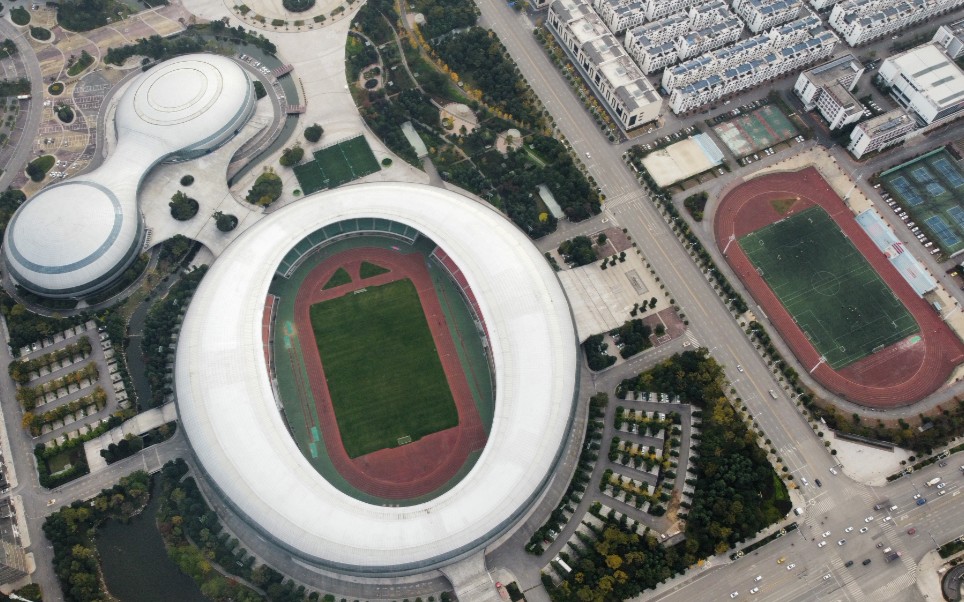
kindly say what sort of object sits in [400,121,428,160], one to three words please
building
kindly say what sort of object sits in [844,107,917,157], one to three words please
building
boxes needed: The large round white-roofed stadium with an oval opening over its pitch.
[171,177,586,579]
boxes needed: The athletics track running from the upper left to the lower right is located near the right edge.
[715,165,964,408]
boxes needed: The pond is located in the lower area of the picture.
[97,471,199,602]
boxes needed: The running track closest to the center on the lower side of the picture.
[283,236,489,501]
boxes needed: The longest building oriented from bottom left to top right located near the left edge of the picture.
[2,50,258,298]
